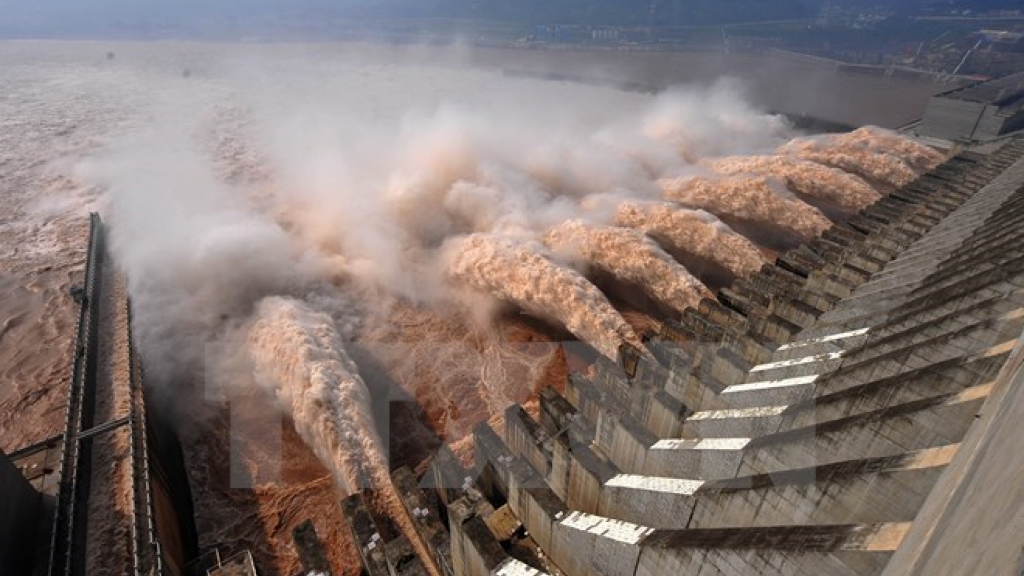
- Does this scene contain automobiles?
No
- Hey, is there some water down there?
Yes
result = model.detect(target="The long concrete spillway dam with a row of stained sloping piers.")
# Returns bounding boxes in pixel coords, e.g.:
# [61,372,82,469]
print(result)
[256,125,1024,576]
